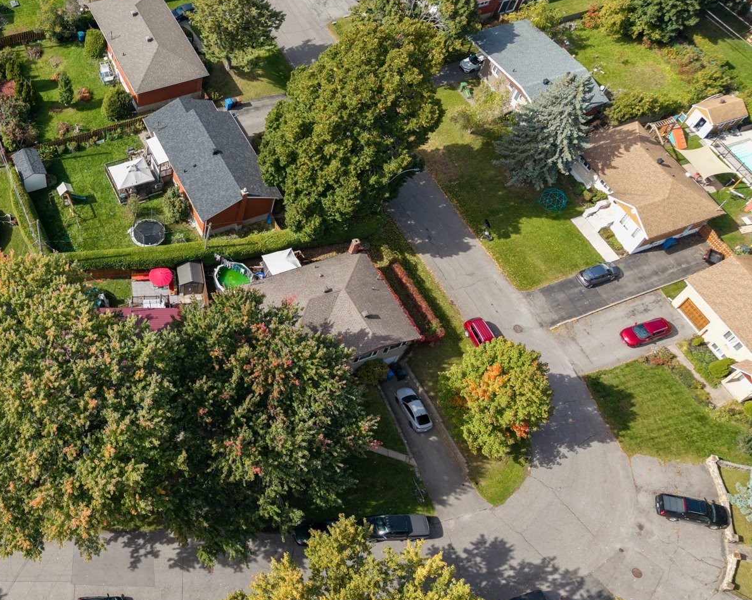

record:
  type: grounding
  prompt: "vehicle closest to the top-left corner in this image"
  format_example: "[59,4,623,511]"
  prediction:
[171,0,204,23]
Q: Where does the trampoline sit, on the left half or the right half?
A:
left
